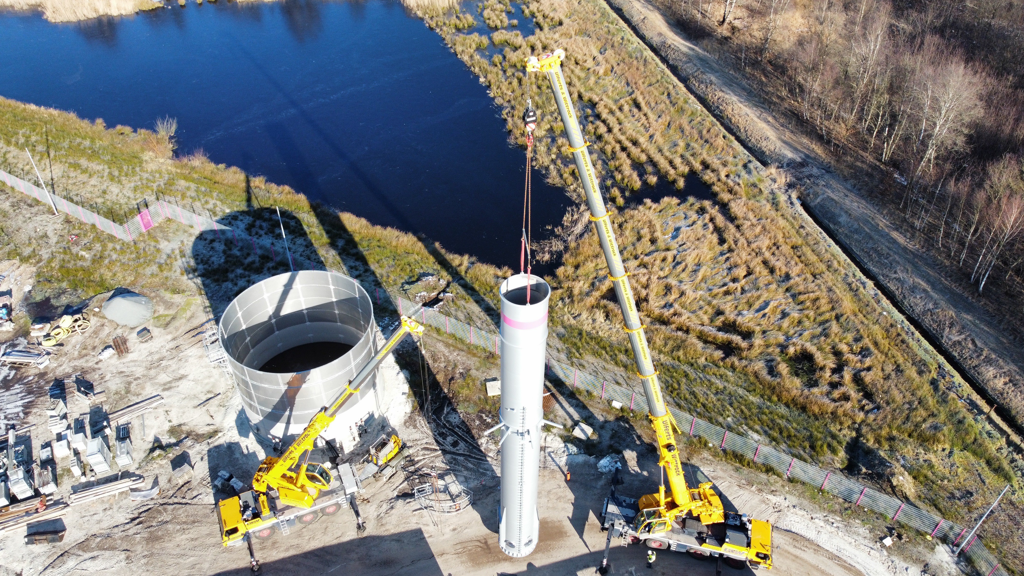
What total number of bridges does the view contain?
none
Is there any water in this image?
Yes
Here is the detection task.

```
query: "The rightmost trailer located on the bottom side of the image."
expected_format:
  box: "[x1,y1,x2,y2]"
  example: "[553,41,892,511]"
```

[355,431,414,479]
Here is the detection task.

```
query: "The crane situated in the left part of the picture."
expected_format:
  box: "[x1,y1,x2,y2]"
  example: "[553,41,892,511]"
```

[208,322,436,575]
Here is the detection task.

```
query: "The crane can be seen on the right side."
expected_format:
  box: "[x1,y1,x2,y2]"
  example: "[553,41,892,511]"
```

[524,51,784,576]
